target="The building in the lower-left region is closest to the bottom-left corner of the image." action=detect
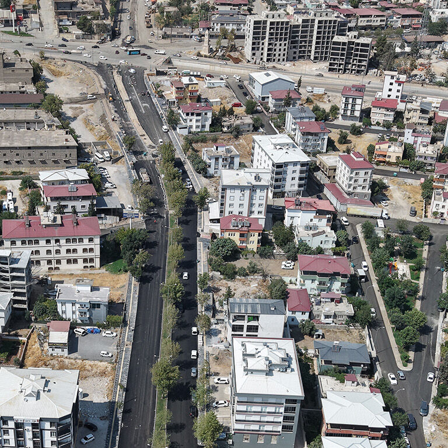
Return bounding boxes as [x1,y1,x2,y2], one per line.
[0,369,82,448]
